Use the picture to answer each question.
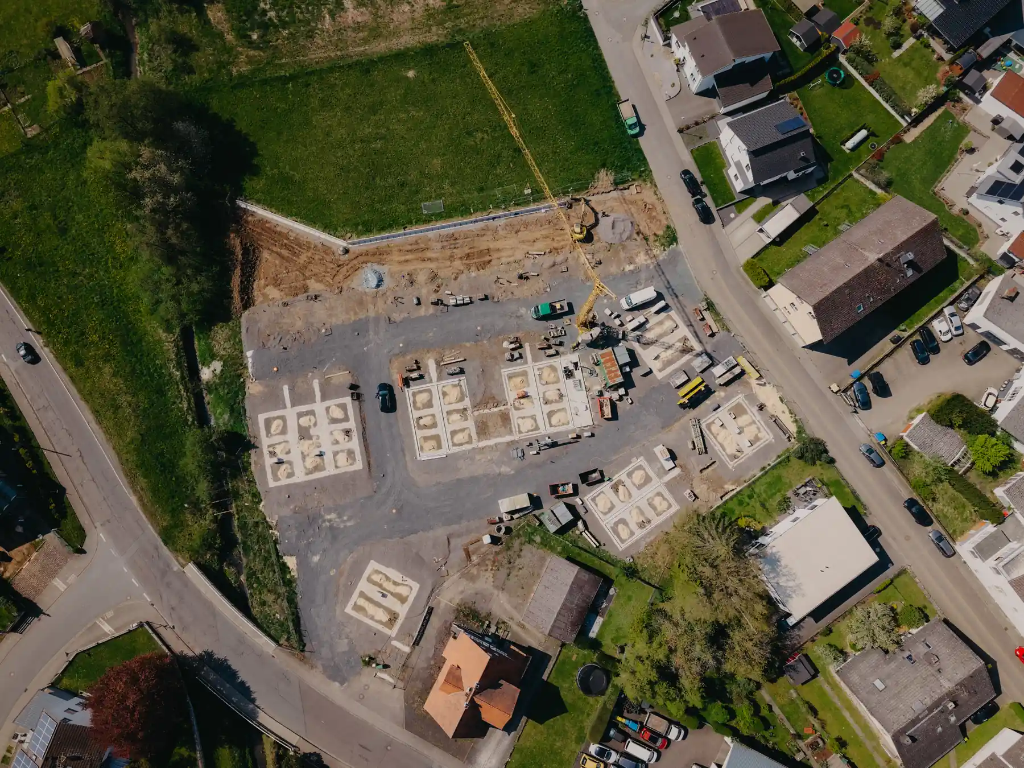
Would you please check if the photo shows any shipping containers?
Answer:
Yes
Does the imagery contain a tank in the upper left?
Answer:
No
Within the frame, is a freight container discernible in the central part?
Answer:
Yes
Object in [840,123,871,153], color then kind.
white storage tank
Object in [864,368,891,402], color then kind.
black truck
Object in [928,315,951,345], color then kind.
white car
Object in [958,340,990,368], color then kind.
black car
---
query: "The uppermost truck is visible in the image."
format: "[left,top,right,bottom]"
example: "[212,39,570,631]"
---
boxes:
[617,99,643,141]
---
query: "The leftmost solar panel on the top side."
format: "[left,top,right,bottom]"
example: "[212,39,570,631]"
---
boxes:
[775,114,807,134]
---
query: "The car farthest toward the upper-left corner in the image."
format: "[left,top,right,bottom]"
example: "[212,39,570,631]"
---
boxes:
[18,340,40,365]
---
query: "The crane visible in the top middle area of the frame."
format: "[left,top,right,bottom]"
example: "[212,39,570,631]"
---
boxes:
[462,39,618,347]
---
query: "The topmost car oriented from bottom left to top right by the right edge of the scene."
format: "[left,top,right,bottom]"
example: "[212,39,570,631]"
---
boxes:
[953,284,981,313]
